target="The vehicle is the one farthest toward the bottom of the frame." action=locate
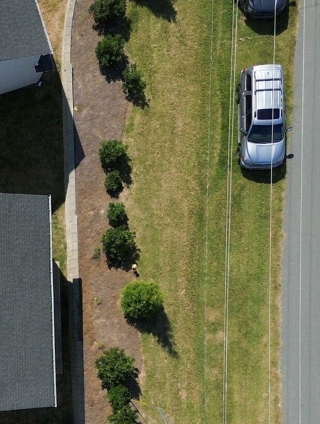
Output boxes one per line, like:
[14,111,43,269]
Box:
[233,63,289,172]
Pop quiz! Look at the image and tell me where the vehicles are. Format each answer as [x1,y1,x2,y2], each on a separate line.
[238,0,287,22]
[233,63,289,172]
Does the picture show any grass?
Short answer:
Yes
